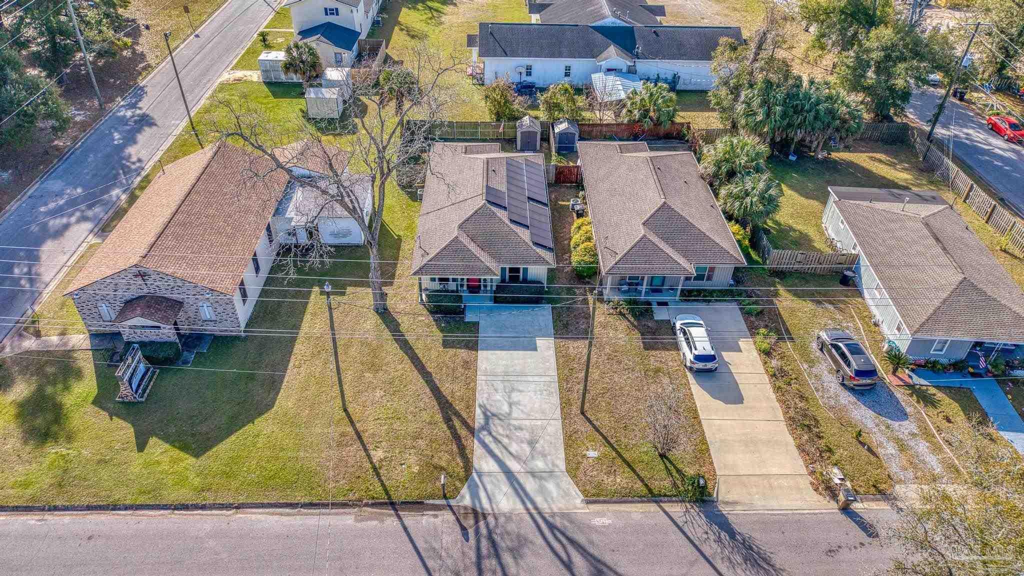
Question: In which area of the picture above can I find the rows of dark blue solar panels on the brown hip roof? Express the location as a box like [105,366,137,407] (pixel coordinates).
[485,160,553,251]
